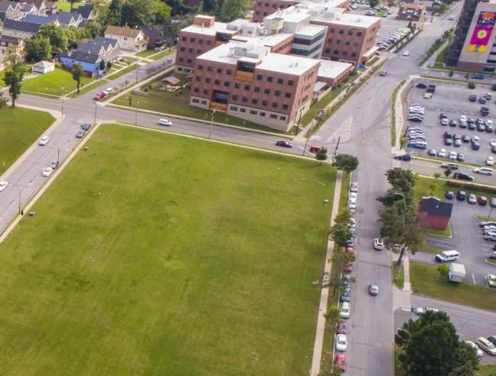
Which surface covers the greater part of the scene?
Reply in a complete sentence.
What you mostly see from above here is grass.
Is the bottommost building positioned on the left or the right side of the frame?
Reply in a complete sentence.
It is on the right.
